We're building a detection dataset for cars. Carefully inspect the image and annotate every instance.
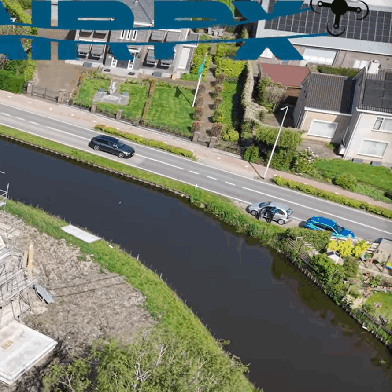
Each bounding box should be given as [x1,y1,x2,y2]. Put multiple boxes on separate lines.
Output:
[247,198,307,225]
[309,213,371,241]
[89,131,139,159]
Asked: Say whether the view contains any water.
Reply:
Yes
